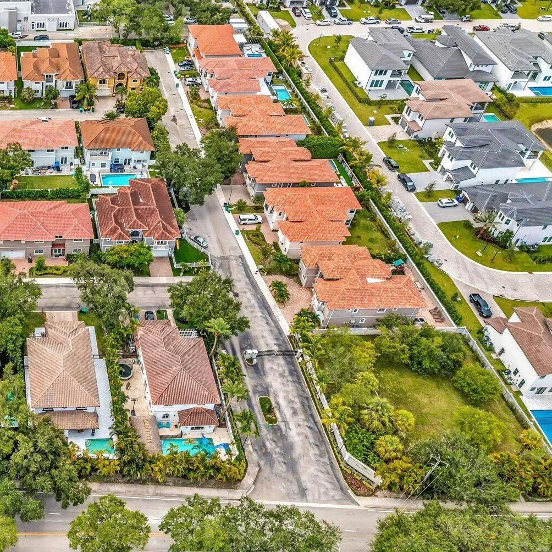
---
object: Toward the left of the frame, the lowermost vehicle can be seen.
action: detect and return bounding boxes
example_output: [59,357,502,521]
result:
[144,303,156,319]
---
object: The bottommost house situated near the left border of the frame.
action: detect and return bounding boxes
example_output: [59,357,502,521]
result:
[26,321,101,437]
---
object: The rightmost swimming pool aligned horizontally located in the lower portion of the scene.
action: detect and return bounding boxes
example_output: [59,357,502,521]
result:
[159,439,218,455]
